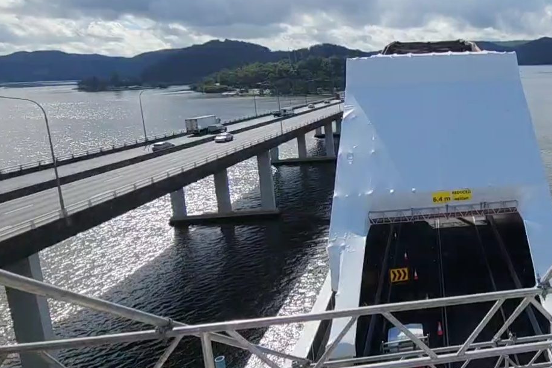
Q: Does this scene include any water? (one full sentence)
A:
Yes, there's water in this view.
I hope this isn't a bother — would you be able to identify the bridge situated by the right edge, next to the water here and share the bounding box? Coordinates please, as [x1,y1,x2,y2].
[367,218,552,368]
